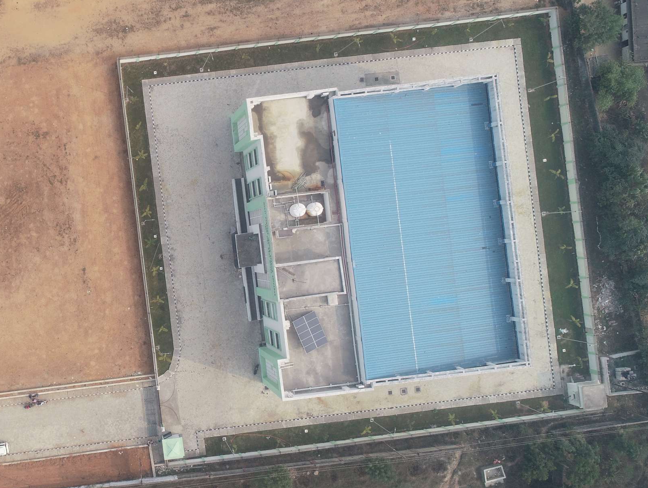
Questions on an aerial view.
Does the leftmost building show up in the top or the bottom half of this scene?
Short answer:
bottom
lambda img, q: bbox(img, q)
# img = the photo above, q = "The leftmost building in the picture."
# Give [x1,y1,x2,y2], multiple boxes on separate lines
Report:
[162,427,185,461]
